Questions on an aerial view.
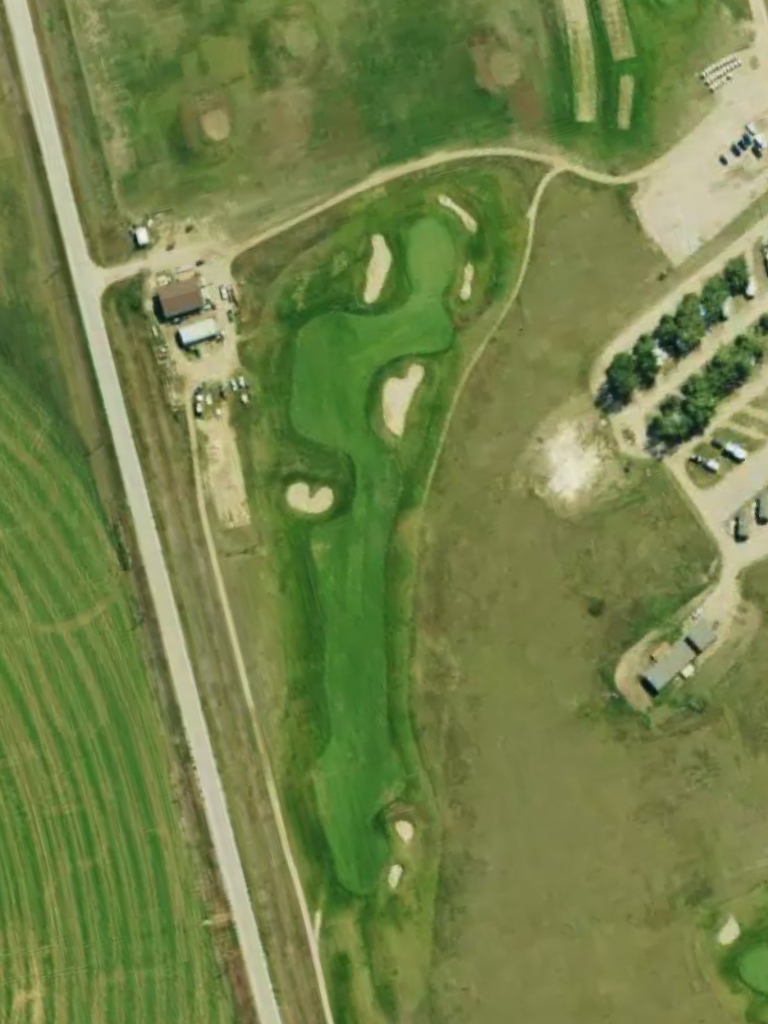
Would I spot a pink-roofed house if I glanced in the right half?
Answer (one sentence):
No, no pink-roofed house is visible in the right half.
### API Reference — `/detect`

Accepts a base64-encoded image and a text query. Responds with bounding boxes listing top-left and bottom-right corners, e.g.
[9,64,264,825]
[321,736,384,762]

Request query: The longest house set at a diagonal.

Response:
[642,622,718,692]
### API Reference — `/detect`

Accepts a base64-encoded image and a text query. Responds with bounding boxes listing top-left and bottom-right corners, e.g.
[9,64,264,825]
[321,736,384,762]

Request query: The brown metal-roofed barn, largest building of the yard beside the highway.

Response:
[156,276,204,316]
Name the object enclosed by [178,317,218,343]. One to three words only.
shed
